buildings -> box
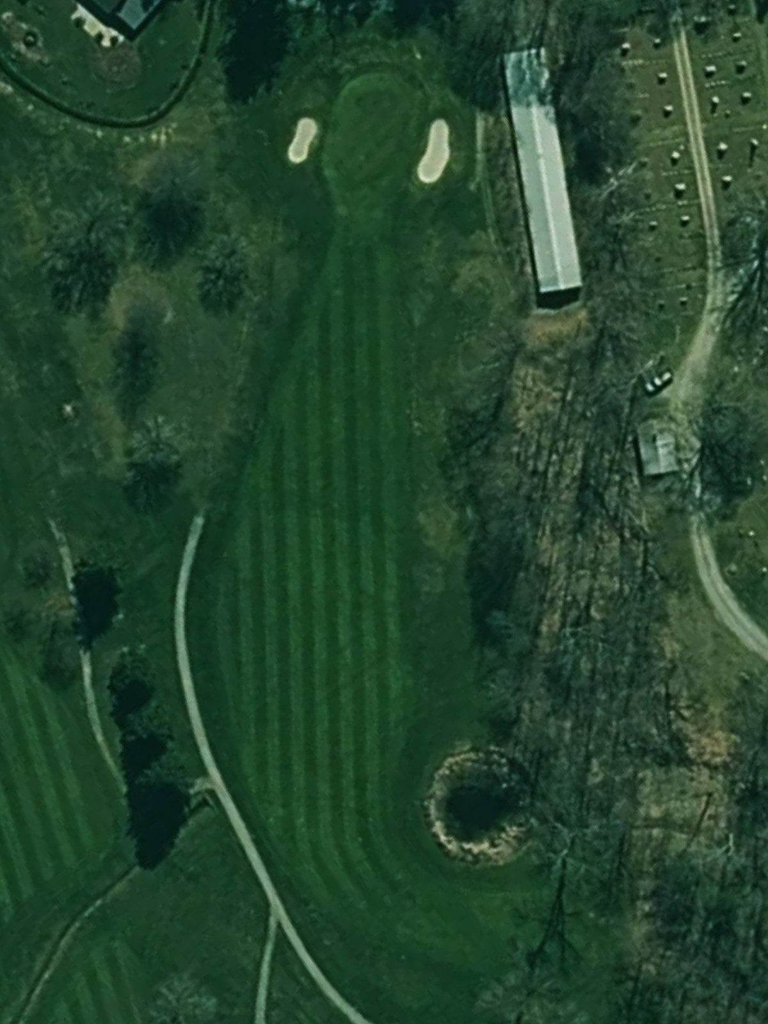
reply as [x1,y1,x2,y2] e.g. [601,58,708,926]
[504,47,583,294]
[638,421,679,474]
[102,0,161,29]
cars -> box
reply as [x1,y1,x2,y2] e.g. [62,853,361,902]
[644,371,671,393]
